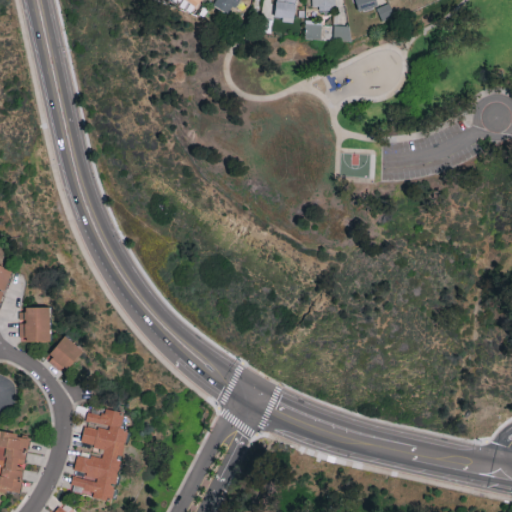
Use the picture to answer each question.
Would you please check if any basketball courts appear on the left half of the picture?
No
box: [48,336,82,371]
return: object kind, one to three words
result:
house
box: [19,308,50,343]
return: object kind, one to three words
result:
house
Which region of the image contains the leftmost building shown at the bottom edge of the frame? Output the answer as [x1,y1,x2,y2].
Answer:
[0,432,30,498]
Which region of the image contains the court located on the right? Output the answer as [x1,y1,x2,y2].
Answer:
[340,153,375,180]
